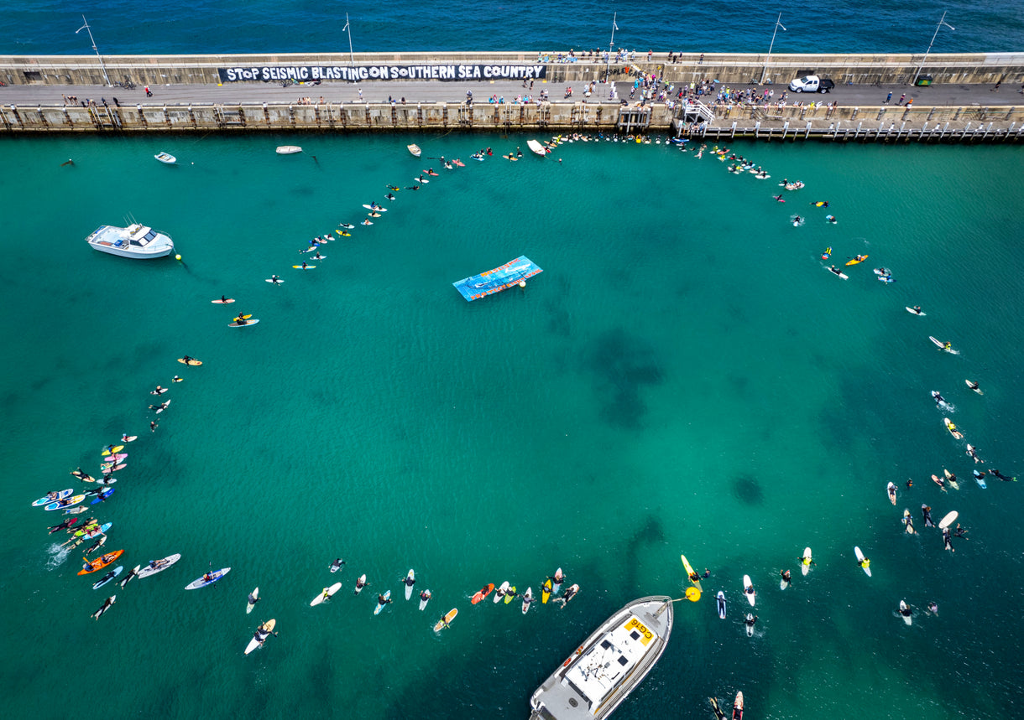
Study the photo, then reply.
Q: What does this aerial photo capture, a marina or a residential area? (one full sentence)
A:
This looks like a marina.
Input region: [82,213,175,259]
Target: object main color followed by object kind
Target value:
white boat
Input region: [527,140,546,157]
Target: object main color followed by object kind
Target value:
white boat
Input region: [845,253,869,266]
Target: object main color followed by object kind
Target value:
yellow boat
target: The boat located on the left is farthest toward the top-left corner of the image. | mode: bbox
[153,152,178,164]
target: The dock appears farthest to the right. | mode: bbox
[672,118,1024,145]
